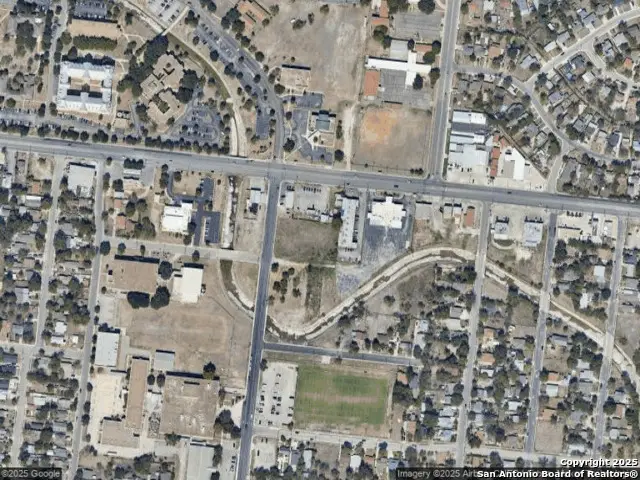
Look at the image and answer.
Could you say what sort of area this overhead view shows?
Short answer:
residential area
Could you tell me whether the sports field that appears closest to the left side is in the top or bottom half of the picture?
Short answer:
bottom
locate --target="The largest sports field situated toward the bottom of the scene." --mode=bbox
[296,364,390,427]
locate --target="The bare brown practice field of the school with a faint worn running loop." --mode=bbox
[164,304,231,356]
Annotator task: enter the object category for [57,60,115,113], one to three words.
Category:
building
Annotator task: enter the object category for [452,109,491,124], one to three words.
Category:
building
